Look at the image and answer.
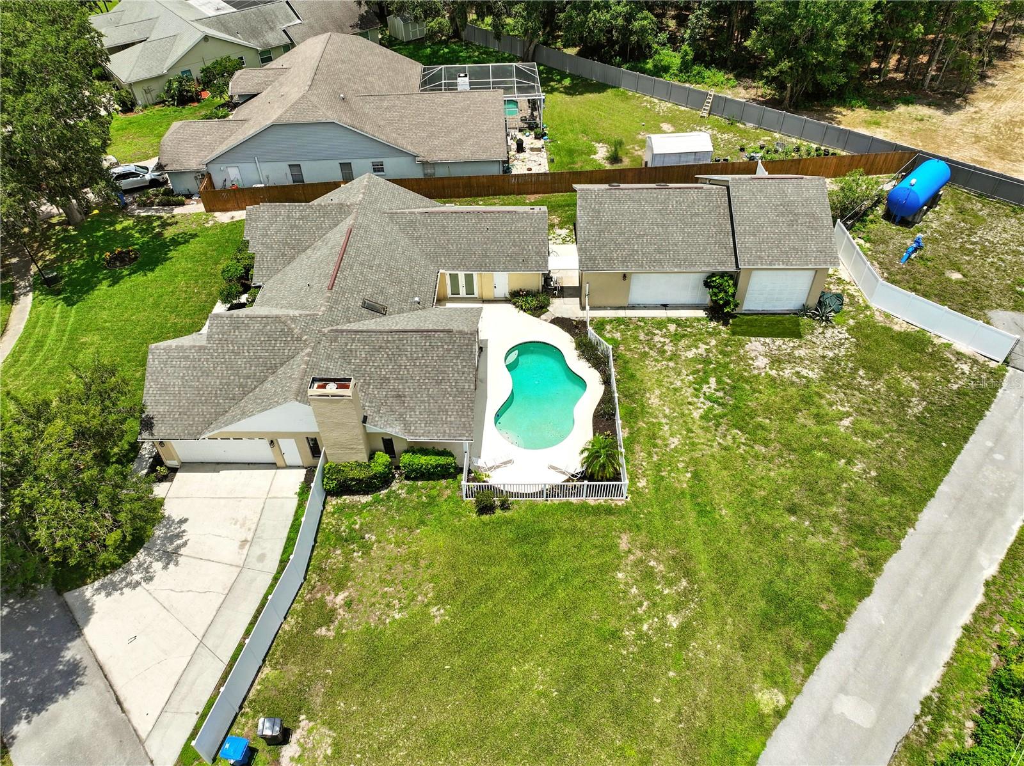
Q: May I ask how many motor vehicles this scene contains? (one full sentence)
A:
There are 2 motor vehicles in the image.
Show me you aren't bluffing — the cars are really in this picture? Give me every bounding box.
[79,141,128,167]
[101,160,168,191]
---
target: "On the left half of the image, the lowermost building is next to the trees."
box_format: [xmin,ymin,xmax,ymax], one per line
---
[139,173,549,471]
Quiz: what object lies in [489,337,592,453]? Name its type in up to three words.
swimming pool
